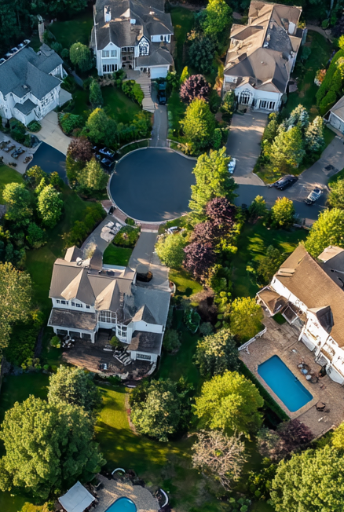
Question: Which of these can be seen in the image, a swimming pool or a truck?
swimming pool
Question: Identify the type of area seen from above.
residential area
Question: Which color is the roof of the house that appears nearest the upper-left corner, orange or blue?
blue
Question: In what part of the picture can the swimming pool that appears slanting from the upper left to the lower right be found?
bottom right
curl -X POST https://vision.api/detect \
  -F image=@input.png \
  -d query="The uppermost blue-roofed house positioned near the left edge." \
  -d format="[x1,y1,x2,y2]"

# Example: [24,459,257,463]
[0,38,65,128]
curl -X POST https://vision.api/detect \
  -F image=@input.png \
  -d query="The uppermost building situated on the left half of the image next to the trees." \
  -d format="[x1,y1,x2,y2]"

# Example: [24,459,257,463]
[94,0,175,78]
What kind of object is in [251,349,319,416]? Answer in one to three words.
swimming pool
